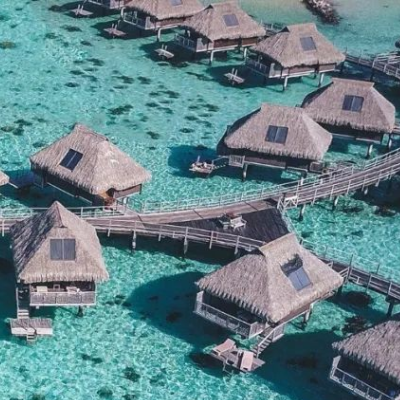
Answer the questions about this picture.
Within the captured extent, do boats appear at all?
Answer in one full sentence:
No, I can see no boat in this picture.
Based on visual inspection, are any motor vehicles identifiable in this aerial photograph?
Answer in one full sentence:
No, there is no motor vehicle in the image.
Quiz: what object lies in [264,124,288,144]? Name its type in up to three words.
solar panel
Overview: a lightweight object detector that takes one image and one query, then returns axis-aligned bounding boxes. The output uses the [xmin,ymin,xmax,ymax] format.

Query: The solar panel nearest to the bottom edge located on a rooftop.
[284,264,310,293]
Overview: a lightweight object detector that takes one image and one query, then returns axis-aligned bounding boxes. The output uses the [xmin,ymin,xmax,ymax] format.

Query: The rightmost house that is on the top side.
[302,78,395,152]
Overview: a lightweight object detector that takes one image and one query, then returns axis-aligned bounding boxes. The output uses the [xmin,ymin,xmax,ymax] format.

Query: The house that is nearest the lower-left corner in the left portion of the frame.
[10,202,109,338]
